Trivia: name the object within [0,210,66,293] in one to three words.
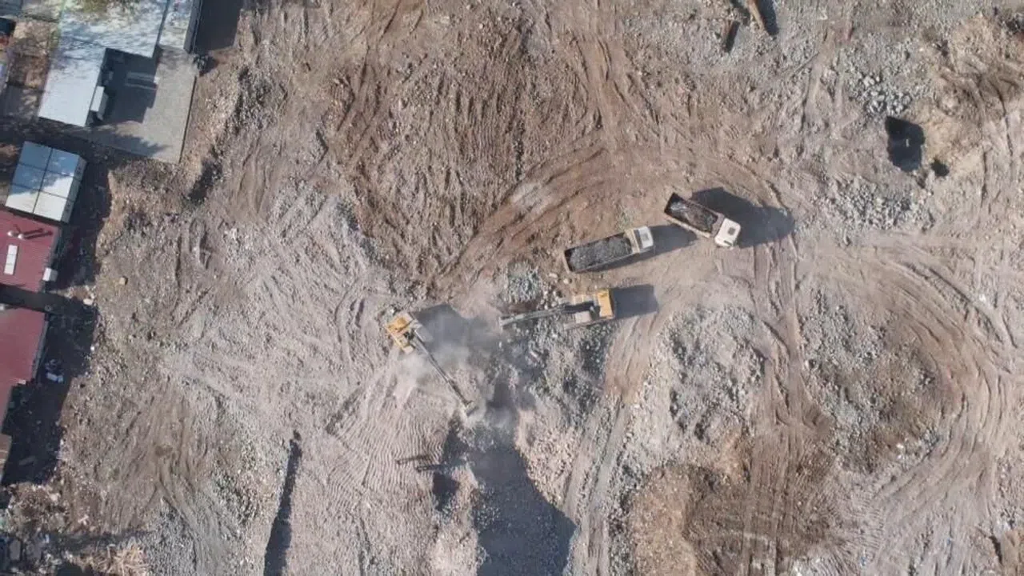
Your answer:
house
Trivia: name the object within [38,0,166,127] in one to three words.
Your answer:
building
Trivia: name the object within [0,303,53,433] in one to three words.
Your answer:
house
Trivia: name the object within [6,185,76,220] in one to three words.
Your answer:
building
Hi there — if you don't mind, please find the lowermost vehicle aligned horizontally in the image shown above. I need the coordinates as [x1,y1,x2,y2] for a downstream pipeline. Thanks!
[499,287,618,331]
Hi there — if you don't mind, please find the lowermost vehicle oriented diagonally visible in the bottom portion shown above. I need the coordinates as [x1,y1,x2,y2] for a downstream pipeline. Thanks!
[380,308,481,423]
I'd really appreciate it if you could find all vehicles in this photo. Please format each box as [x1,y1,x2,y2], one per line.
[663,187,746,250]
[380,308,481,423]
[499,287,618,331]
[562,223,658,273]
